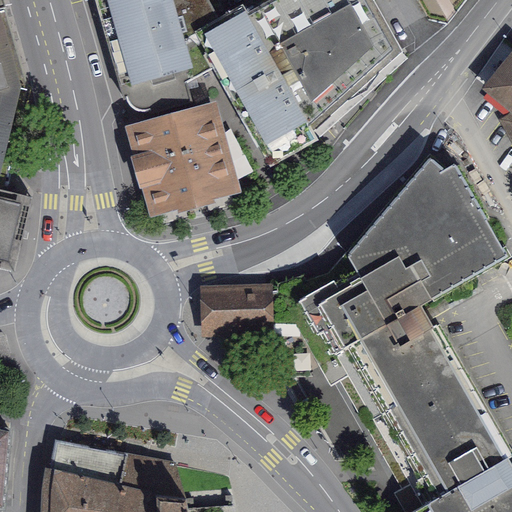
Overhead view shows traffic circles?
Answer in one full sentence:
Yes, the photo shows a traffic circle.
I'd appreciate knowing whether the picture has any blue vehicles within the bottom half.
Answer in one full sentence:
Yes, there is a blue vehicle within the bottom half.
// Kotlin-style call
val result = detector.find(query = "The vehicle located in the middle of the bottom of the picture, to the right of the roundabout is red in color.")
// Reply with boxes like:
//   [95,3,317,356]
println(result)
[253,404,274,423]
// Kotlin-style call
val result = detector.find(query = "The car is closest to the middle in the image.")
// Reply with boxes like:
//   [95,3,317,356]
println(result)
[212,230,236,243]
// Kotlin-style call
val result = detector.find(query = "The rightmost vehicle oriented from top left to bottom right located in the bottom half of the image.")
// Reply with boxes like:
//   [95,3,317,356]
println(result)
[299,446,318,466]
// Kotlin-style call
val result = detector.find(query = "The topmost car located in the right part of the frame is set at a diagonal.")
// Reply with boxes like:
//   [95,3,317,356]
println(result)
[390,17,408,40]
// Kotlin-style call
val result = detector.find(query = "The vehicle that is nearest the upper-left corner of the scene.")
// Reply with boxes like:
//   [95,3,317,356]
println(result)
[63,36,76,60]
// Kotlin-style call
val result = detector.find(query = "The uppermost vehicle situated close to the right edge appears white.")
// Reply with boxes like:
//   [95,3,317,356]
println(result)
[474,100,494,122]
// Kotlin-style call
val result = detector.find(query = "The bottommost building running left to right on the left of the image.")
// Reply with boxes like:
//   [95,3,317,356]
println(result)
[40,440,186,512]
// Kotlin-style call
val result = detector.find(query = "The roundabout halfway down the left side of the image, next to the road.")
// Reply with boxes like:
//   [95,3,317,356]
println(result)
[15,171,234,416]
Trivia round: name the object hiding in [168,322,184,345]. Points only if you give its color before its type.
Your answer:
blue car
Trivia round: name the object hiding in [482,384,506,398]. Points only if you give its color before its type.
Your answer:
gray car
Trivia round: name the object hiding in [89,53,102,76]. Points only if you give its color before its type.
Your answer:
white vehicle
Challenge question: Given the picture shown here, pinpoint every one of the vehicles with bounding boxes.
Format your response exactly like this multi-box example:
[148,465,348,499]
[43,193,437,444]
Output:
[212,230,236,243]
[168,322,184,345]
[488,396,511,408]
[299,446,318,466]
[474,100,494,122]
[488,124,507,146]
[63,36,76,60]
[42,218,54,240]
[447,322,464,332]
[432,128,448,152]
[498,146,512,170]
[89,53,102,76]
[253,404,274,423]
[0,296,14,310]
[482,384,506,398]
[196,358,218,380]
[390,17,408,40]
